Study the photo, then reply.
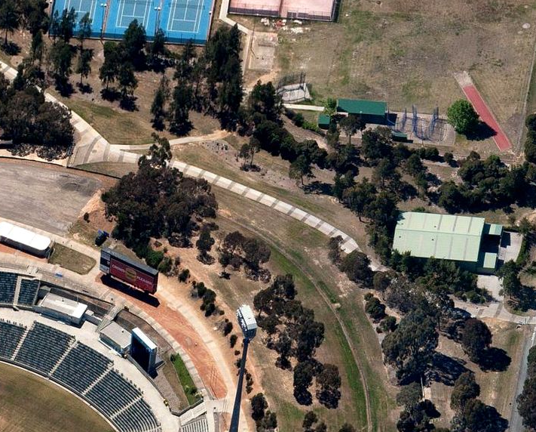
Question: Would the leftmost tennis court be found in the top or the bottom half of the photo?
top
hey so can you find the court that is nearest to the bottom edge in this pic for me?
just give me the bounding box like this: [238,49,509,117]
[249,32,277,68]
